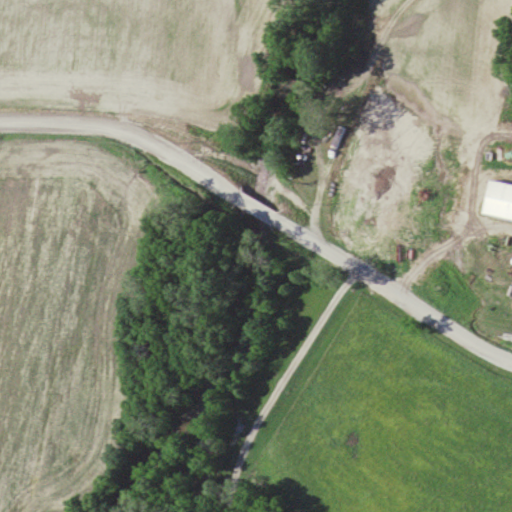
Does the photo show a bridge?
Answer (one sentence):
Yes, a bridge can be made out from above.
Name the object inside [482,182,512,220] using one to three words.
barn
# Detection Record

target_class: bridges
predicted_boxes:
[230,190,281,230]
